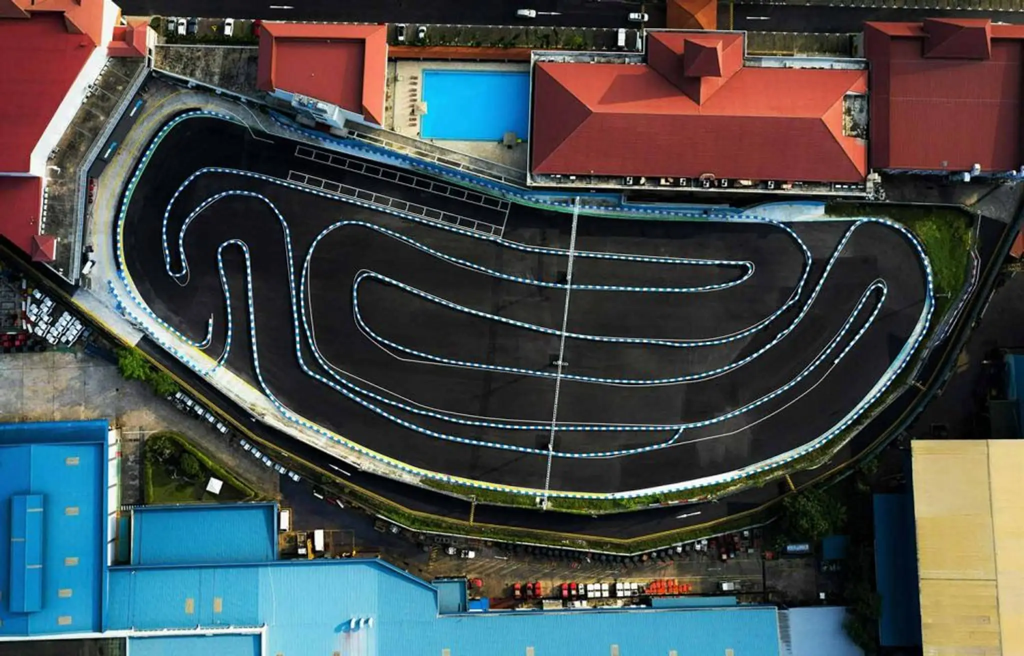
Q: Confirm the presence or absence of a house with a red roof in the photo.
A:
Yes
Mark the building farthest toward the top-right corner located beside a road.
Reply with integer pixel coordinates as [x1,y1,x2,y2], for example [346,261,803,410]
[847,18,1024,181]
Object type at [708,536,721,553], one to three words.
vehicle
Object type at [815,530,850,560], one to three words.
shed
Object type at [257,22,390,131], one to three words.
house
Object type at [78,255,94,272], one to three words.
vehicle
